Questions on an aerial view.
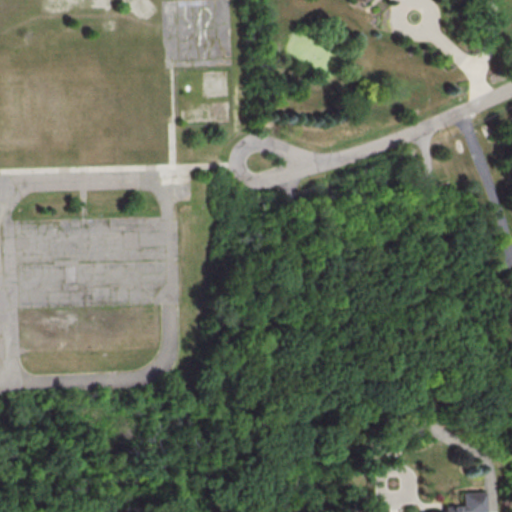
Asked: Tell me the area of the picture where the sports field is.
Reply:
top left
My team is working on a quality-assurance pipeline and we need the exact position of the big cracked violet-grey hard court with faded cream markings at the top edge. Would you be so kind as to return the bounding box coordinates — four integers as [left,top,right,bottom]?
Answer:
[162,0,231,68]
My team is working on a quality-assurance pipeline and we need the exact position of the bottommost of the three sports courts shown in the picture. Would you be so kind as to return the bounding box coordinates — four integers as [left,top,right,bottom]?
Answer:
[182,102,230,123]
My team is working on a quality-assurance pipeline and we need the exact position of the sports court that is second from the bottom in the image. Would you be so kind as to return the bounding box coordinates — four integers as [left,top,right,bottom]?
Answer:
[203,70,228,98]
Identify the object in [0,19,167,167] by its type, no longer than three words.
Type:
sports field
